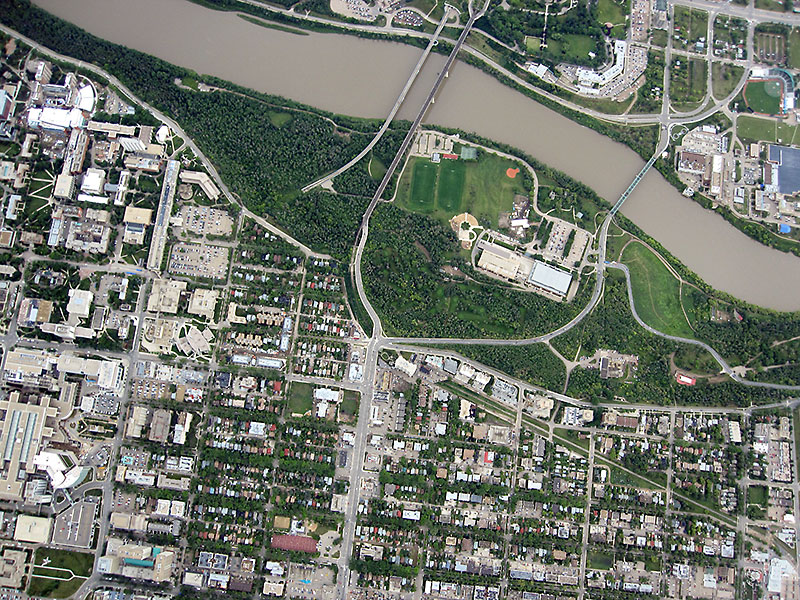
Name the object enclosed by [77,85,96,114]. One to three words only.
building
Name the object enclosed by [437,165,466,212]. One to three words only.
soccer field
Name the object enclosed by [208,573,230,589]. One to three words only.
building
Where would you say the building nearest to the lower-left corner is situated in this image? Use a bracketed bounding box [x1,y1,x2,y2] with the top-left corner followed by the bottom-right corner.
[0,549,30,588]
